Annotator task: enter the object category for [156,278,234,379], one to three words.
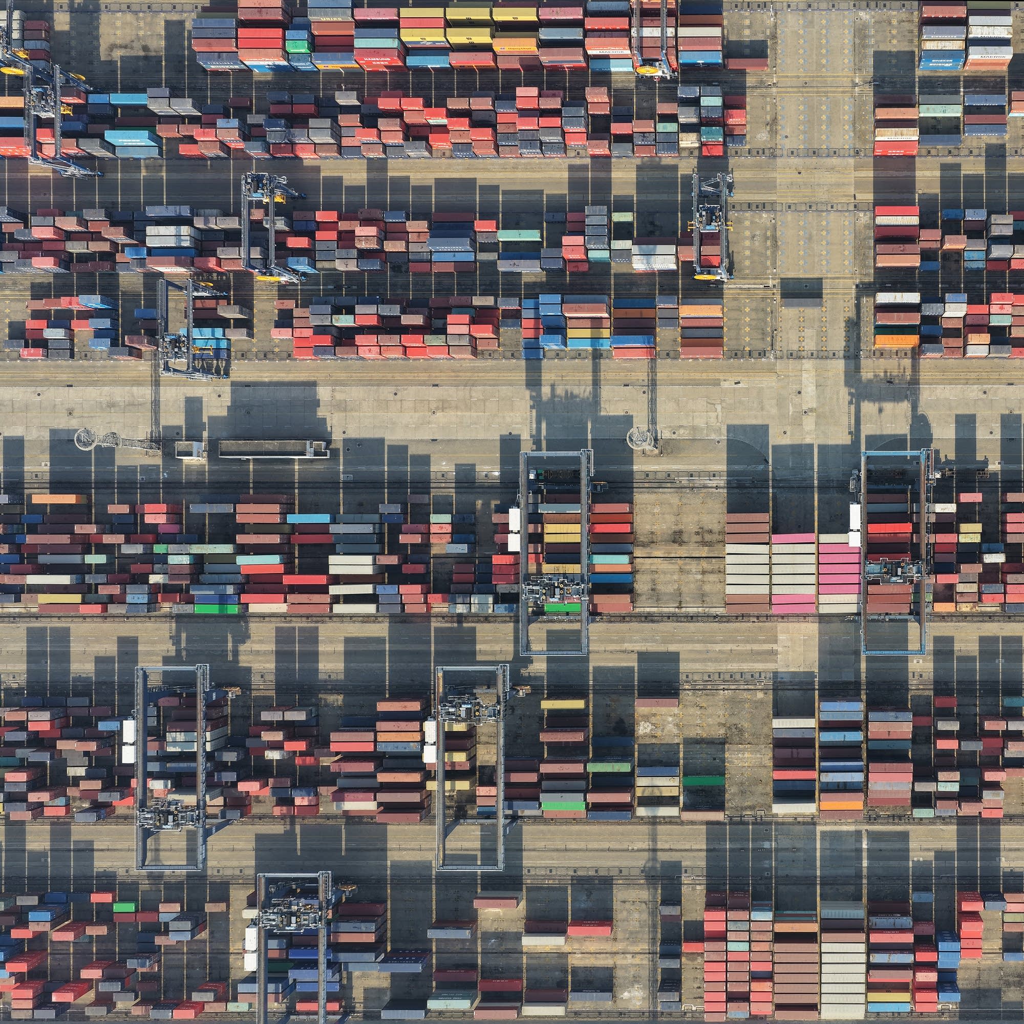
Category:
container crane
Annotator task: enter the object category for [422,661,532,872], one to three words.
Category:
container crane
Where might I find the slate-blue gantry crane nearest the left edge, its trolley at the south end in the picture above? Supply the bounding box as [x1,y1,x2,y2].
[122,661,246,872]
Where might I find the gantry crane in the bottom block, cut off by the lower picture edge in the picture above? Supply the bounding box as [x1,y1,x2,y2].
[243,862,362,1024]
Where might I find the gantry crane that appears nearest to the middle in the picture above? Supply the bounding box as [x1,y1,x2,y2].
[506,450,612,657]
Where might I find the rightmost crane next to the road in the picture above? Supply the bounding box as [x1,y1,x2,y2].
[847,449,934,656]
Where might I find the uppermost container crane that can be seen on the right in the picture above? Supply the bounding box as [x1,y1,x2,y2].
[630,0,682,83]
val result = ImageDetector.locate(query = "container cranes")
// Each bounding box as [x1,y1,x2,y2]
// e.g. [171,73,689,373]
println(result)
[238,170,312,287]
[0,0,54,83]
[688,172,739,286]
[122,661,246,872]
[506,450,612,657]
[422,661,532,872]
[630,0,682,83]
[22,63,109,176]
[156,278,234,379]
[847,449,934,656]
[243,862,362,1024]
